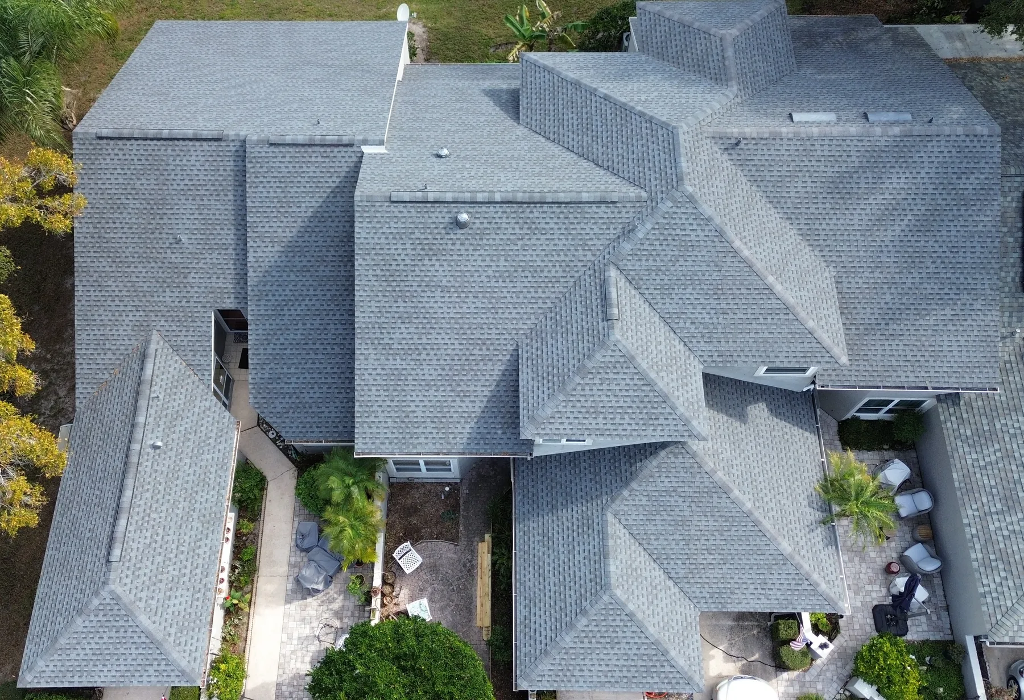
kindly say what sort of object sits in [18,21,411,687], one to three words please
house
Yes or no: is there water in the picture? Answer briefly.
No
